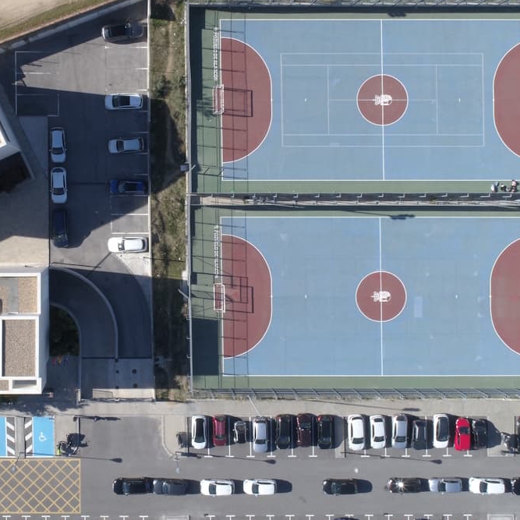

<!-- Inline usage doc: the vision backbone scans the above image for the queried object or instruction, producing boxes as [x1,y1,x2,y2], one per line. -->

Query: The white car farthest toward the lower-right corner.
[467,477,506,497]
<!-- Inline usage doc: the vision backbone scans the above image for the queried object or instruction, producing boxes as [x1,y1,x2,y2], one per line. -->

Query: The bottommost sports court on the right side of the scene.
[192,208,520,389]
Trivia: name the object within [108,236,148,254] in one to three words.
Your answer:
car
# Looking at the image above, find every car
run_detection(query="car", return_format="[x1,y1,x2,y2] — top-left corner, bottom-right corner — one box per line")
[105,92,142,111]
[190,414,208,449]
[470,417,489,448]
[199,478,234,497]
[49,166,67,205]
[108,236,148,254]
[296,412,313,447]
[153,478,188,497]
[467,477,506,497]
[510,477,520,494]
[316,414,335,448]
[252,415,270,452]
[431,412,451,448]
[427,477,462,495]
[391,414,409,448]
[51,208,69,247]
[410,418,429,449]
[452,416,472,451]
[387,477,423,495]
[323,477,358,497]
[274,413,292,449]
[242,478,276,497]
[212,414,228,446]
[233,419,247,443]
[369,414,388,448]
[347,414,365,450]
[48,127,67,164]
[114,477,151,496]
[108,136,146,155]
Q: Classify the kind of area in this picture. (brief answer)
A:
sports ground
